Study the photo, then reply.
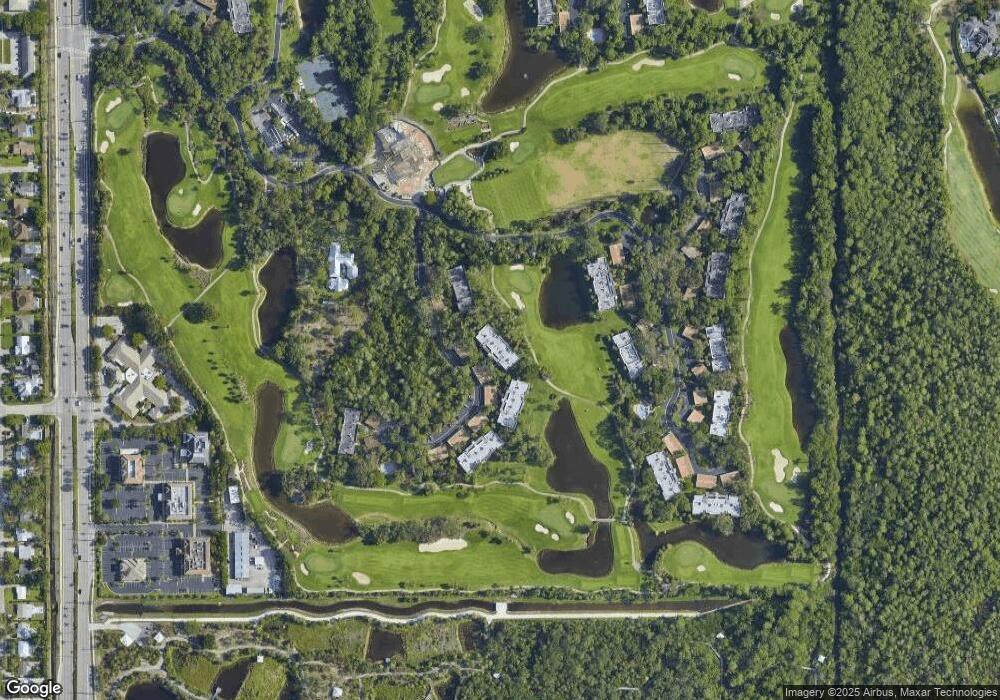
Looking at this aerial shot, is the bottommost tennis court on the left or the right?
left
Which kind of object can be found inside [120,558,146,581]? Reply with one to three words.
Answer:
building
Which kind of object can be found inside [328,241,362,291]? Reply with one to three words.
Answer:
house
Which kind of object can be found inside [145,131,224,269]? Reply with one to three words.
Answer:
pond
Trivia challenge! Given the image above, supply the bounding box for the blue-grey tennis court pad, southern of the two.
[316,86,351,125]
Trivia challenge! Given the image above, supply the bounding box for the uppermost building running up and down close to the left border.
[20,37,35,76]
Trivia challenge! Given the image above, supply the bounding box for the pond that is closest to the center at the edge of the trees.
[540,252,594,329]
